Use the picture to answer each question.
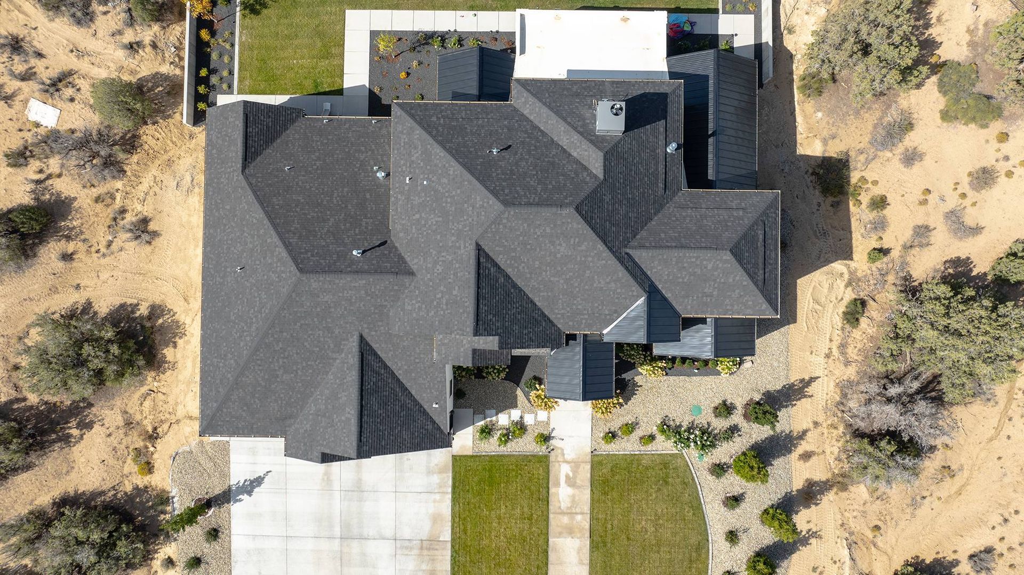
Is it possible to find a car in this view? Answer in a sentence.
No, no car can be seen from above.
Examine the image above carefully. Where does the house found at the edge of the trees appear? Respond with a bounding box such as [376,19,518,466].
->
[197,9,783,464]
